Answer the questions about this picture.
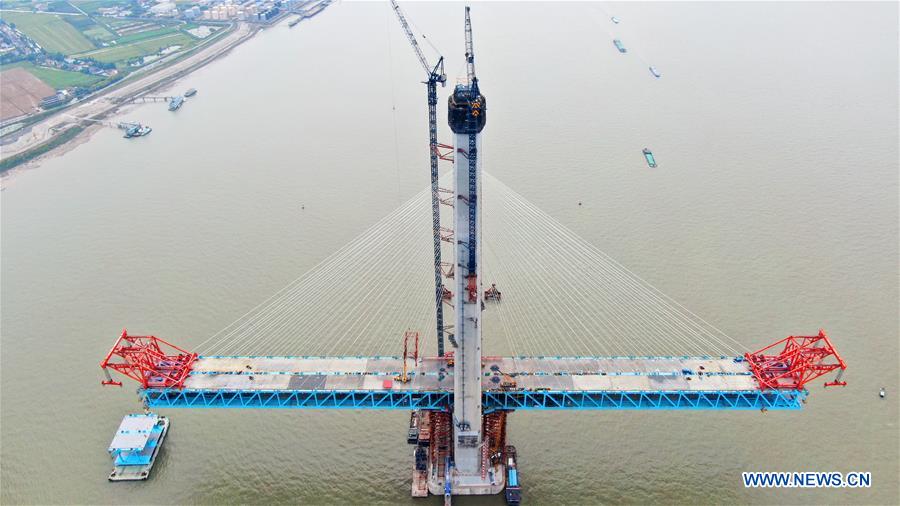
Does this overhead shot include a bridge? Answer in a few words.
Yes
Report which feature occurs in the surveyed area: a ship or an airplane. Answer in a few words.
ship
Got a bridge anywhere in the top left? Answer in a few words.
No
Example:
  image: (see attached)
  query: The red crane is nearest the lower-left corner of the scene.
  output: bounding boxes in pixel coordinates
[98,327,199,391]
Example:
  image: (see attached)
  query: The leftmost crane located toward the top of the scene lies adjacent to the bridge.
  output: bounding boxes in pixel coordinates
[381,0,454,355]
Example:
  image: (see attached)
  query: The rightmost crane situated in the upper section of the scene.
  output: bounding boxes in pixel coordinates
[459,5,480,330]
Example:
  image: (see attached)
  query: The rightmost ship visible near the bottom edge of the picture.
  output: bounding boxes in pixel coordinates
[504,444,522,504]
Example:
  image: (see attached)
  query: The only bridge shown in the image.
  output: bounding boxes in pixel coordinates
[145,184,802,410]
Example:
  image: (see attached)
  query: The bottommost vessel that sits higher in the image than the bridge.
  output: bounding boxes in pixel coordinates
[642,148,659,166]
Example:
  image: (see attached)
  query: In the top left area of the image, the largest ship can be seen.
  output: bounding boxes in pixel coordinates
[115,120,149,139]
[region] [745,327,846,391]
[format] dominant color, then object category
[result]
red crane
